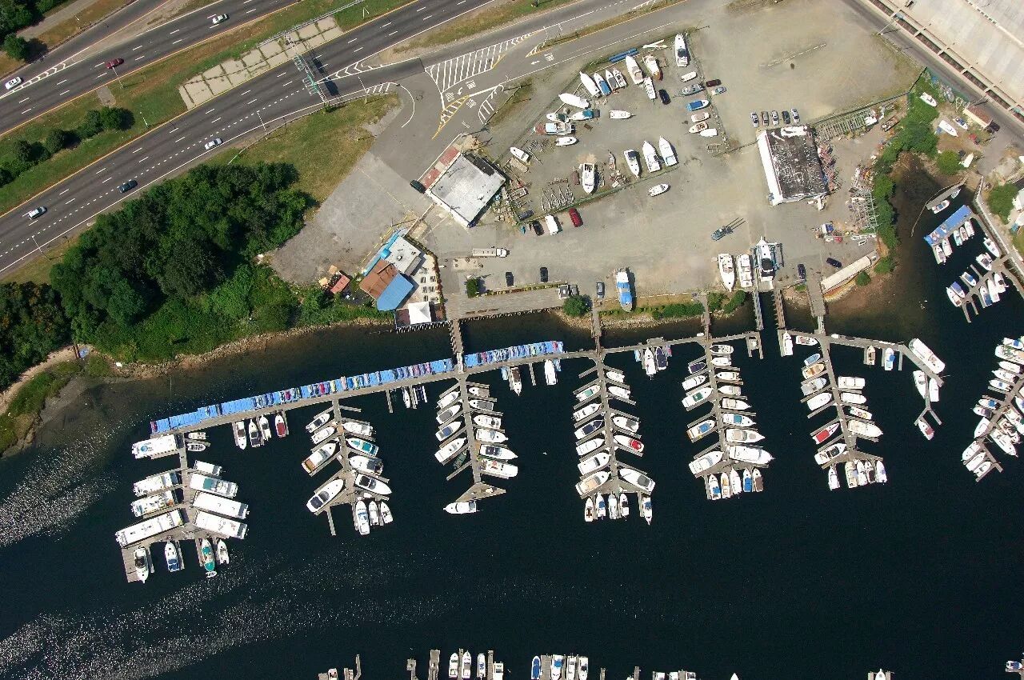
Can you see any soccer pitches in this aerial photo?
No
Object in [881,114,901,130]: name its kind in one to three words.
ship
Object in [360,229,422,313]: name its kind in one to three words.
building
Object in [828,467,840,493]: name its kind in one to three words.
boat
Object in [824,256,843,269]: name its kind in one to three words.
vehicle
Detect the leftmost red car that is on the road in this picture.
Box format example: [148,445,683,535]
[105,56,124,70]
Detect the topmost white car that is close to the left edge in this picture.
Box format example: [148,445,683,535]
[4,76,23,90]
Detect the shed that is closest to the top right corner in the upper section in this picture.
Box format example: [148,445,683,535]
[963,105,992,129]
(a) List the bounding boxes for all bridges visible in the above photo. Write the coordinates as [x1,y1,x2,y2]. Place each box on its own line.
[868,0,1024,119]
